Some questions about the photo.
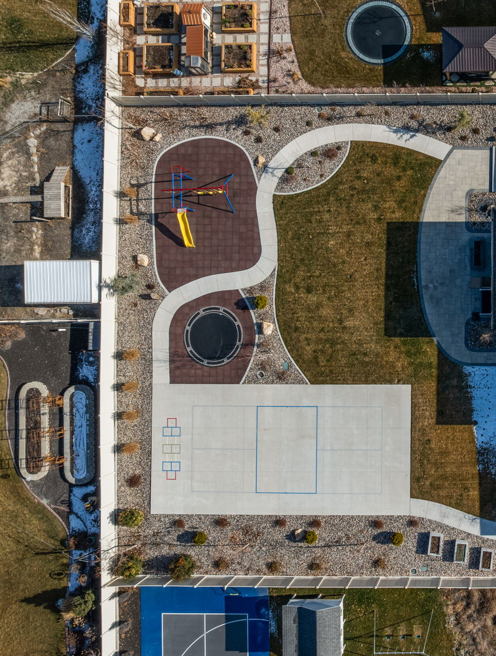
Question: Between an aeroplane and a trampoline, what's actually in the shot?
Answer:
trampoline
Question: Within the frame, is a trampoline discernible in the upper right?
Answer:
Yes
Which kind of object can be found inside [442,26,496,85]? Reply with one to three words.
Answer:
gazebo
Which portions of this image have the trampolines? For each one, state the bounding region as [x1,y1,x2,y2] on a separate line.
[182,307,243,367]
[346,0,410,65]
